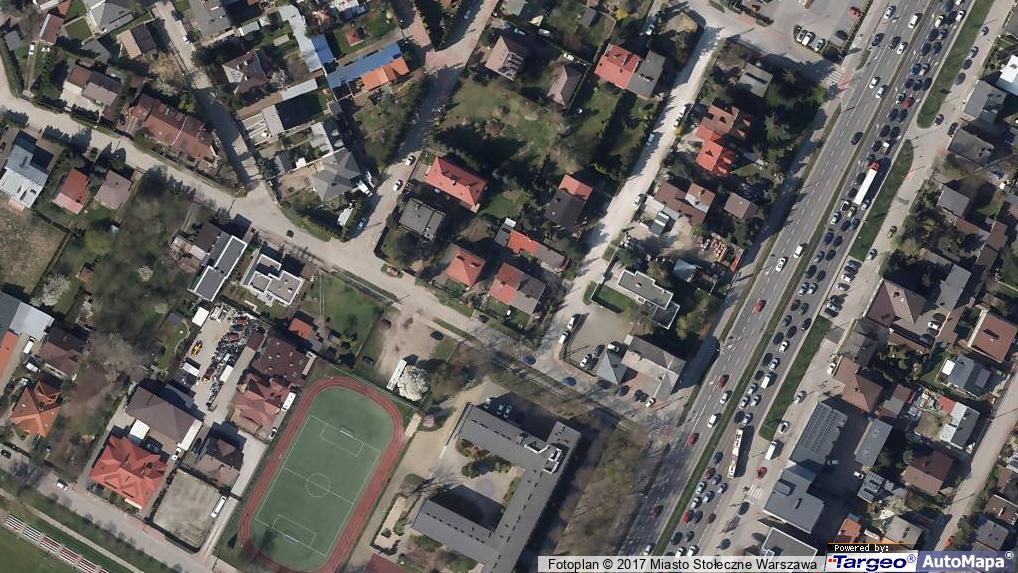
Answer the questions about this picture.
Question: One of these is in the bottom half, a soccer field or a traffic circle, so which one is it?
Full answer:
There is a soccer field in the bottom half.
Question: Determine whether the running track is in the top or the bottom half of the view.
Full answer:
You can find the running track in the bottom half.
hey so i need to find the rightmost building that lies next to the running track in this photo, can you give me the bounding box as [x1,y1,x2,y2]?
[413,404,582,573]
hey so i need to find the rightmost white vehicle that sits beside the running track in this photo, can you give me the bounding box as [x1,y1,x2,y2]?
[387,360,406,390]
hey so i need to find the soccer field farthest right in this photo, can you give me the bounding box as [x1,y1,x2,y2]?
[254,392,387,571]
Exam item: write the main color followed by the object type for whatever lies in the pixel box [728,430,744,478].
white vehicle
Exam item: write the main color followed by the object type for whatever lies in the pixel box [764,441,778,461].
white vehicle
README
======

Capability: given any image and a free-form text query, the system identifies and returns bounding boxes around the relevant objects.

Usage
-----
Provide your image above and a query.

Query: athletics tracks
[241,379,400,573]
